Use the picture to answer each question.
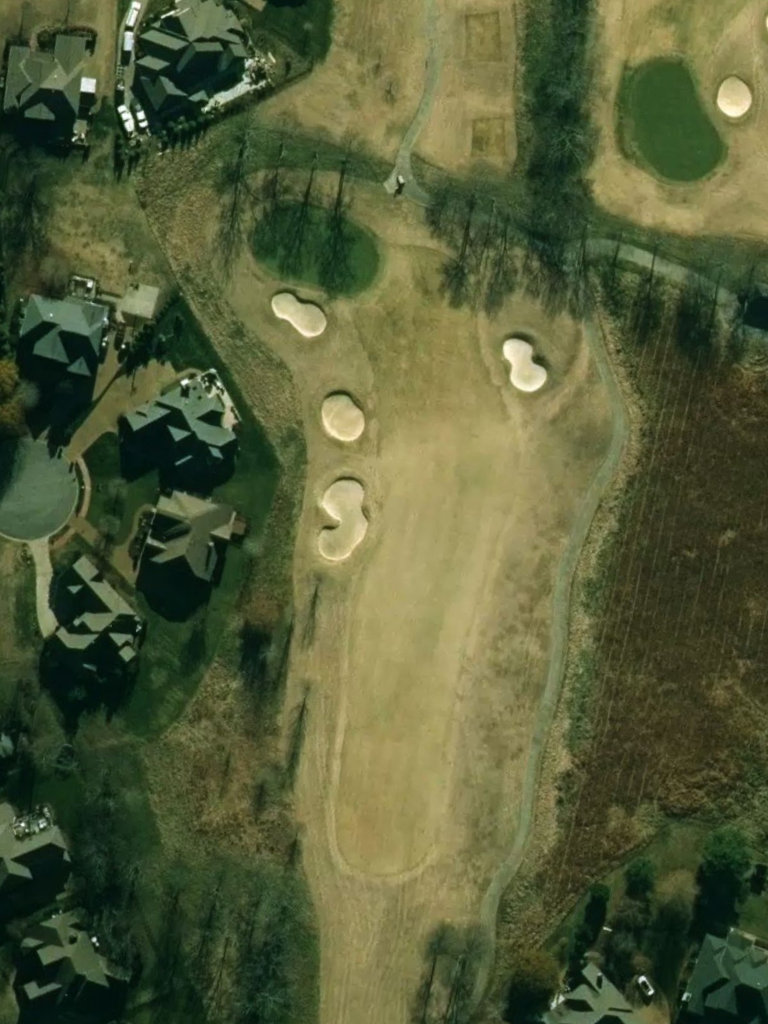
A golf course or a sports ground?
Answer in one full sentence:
What you see here is a golf course.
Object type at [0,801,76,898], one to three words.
house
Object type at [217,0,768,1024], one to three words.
golf course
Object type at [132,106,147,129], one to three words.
car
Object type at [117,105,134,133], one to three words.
vehicle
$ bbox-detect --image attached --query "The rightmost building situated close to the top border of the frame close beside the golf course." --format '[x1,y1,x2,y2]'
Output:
[130,0,249,115]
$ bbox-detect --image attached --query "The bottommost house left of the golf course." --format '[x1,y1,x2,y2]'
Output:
[20,904,130,1007]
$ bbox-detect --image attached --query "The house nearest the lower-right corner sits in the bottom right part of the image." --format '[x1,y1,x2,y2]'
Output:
[677,927,768,1020]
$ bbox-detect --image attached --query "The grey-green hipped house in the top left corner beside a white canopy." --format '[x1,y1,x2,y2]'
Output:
[0,35,87,122]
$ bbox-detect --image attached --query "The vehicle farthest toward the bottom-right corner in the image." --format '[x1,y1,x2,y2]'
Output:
[636,974,654,997]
